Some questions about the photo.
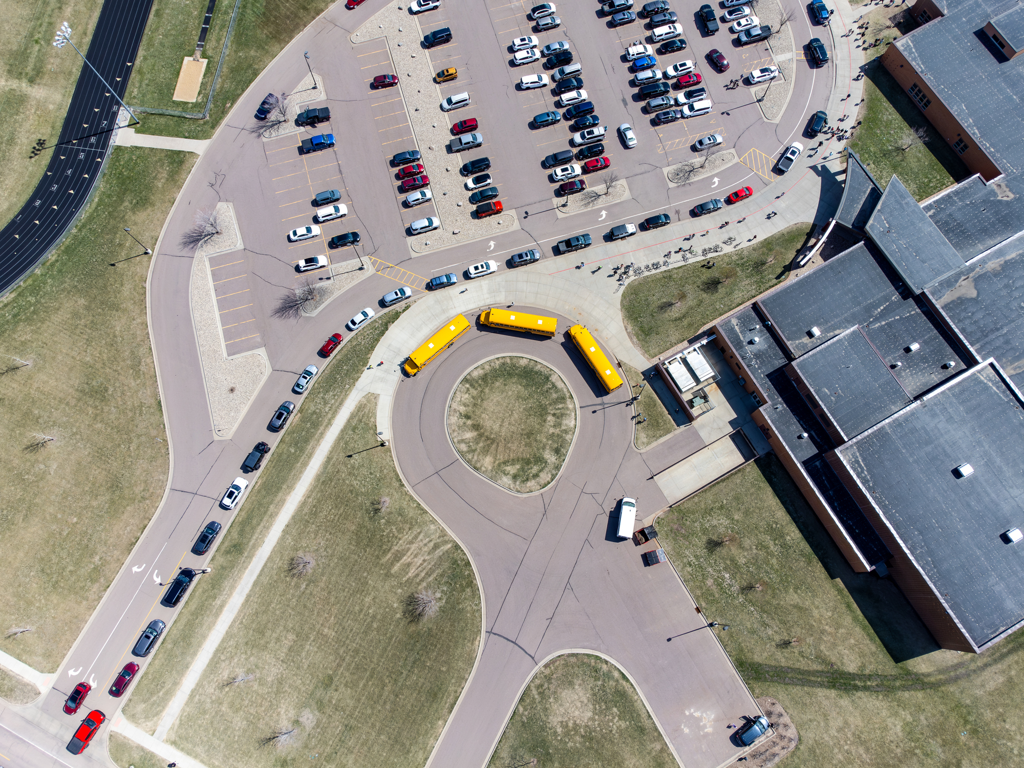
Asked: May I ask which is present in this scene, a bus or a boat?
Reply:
bus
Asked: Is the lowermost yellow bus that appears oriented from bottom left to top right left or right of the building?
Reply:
to its left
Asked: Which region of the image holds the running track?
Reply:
top left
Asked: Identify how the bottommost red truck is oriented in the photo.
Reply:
diagonally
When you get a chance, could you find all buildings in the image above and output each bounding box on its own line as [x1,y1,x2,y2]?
[708,0,1024,654]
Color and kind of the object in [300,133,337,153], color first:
blue vehicle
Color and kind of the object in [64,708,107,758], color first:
red truck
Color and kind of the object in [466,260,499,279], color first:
white car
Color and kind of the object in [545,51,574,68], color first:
black car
